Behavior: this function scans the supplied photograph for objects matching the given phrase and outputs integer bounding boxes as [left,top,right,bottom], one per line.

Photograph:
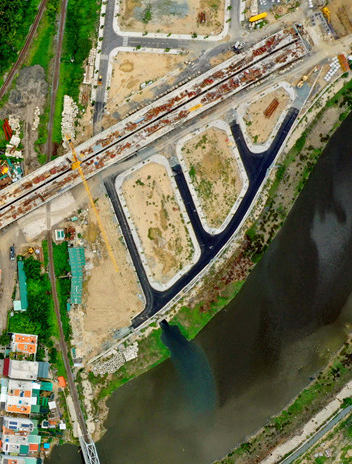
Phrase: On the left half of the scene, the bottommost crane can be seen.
[61,132,119,272]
